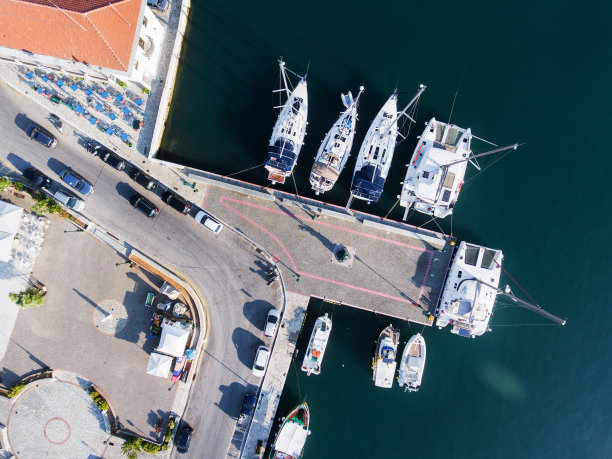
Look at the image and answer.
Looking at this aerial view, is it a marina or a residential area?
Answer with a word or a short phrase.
marina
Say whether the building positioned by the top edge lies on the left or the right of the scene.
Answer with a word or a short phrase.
left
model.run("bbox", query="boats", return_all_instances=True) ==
[341,92,353,109]
[436,241,568,339]
[262,59,311,186]
[370,326,398,394]
[397,335,425,394]
[415,202,437,217]
[349,83,428,204]
[399,117,521,216]
[311,85,365,198]
[270,400,311,459]
[302,318,331,380]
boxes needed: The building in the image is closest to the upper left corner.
[0,0,165,94]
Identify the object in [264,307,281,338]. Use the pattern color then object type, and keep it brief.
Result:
white car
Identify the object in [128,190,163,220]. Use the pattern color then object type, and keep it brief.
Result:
black car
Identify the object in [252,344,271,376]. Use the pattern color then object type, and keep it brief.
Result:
white car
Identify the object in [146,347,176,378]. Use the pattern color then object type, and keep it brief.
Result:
white tent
